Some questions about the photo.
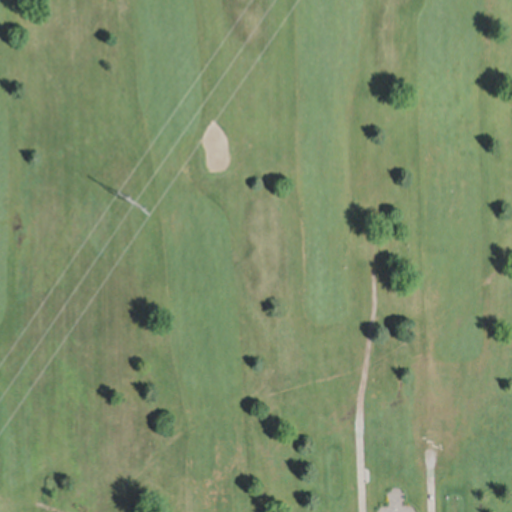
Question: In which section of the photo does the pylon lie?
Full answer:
The pylon is located in the left region of the scene.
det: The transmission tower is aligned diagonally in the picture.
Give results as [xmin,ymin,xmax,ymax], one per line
[118,192,150,216]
